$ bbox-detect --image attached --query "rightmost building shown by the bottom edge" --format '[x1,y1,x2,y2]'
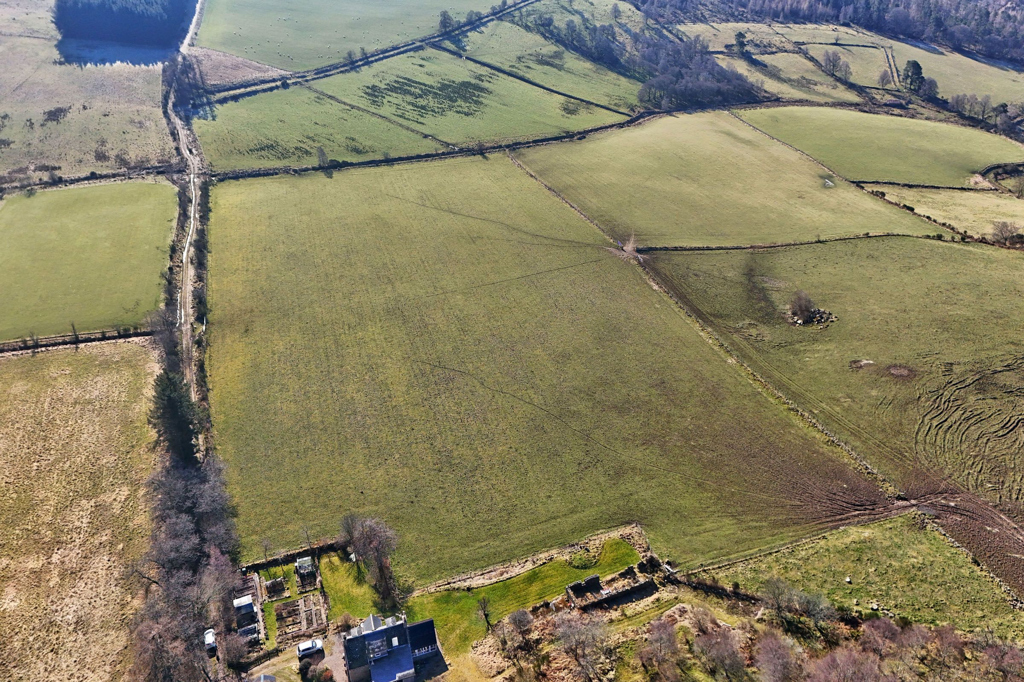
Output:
[340,608,442,682]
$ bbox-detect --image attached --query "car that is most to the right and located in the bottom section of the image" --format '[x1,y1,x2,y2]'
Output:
[296,644,322,660]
